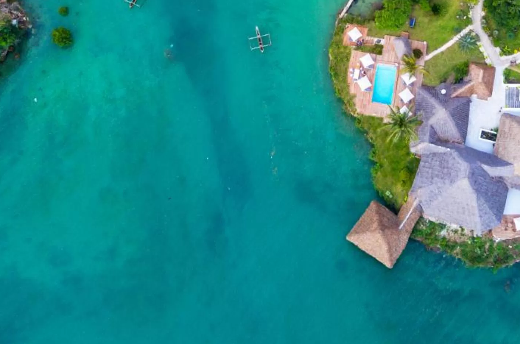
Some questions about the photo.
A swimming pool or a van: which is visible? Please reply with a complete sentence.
This aerial view contains a swimming pool.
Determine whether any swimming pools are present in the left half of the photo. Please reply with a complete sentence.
No, I can find no swimming pool in the left half of the photo.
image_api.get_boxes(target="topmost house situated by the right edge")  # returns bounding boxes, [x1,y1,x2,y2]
[453,61,496,101]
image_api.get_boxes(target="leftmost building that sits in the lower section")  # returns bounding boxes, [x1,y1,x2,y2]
[345,199,415,270]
